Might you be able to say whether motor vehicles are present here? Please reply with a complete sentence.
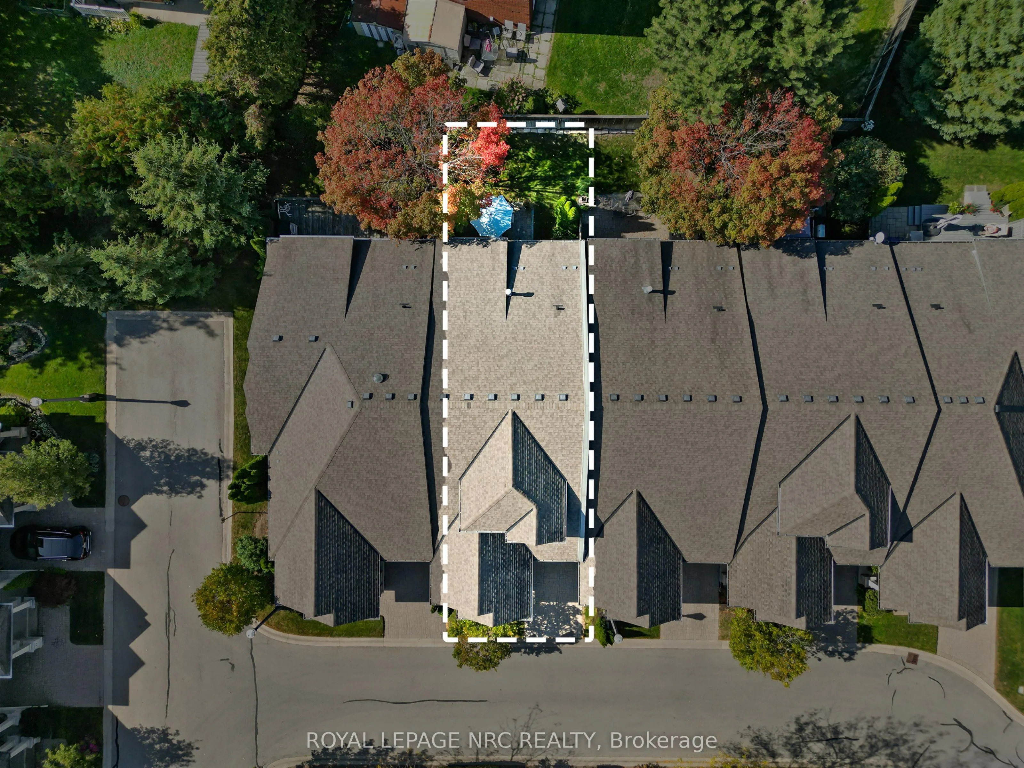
Yes, the picture does show a motor vehicle.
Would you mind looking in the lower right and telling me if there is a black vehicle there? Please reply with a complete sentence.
No, there is no black vehicle in the lower right.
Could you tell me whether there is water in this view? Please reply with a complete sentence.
No, there's no water in this view.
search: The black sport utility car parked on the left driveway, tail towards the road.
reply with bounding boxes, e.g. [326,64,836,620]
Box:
[10,522,96,564]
